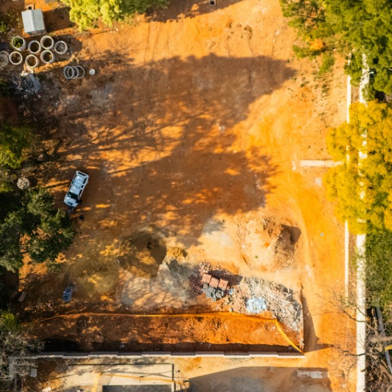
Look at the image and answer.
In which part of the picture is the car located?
left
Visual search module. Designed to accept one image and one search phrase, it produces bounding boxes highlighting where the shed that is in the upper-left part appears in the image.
[22,7,48,35]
